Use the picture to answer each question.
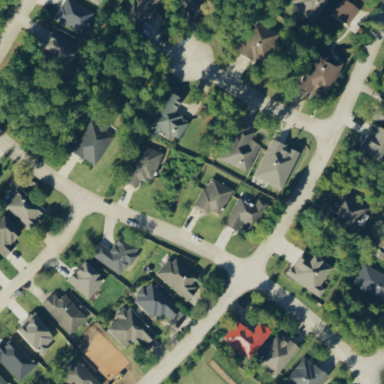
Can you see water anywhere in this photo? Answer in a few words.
No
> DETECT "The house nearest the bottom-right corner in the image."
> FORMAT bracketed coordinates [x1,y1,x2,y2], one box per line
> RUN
[286,357,326,384]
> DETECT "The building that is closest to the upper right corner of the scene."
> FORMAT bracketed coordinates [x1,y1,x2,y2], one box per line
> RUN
[334,0,362,28]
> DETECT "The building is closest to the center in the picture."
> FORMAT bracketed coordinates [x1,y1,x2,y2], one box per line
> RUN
[195,176,236,218]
